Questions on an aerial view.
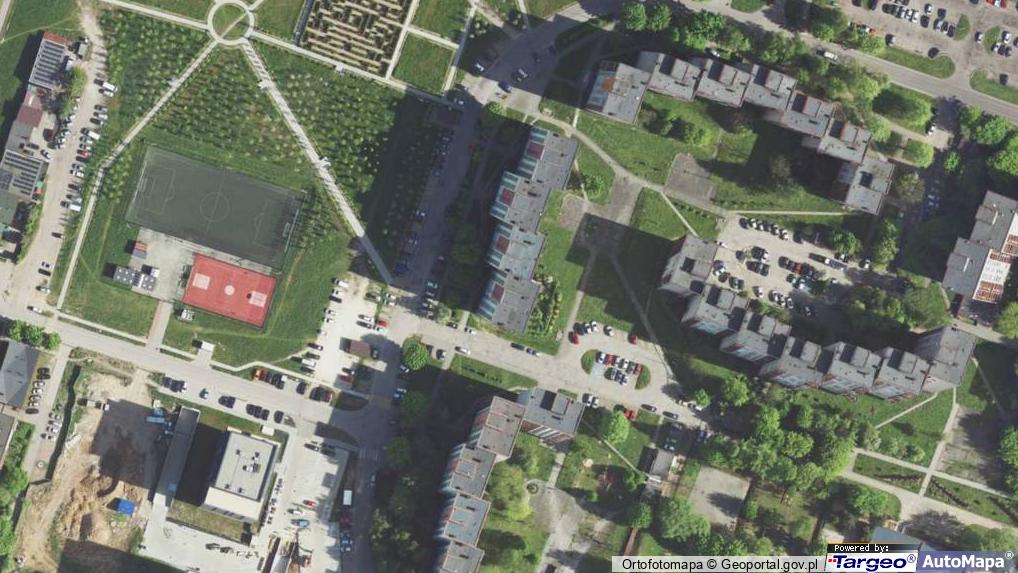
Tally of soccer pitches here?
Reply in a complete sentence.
Only 1 soccer pitch is visible.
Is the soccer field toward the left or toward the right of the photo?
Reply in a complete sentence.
It is on the left.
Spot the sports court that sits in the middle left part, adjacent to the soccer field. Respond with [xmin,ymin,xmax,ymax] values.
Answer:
[181,253,280,327]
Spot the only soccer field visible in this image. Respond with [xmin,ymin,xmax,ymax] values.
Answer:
[126,146,306,270]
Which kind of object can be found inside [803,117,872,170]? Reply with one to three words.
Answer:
building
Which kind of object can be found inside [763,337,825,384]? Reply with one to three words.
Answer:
building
